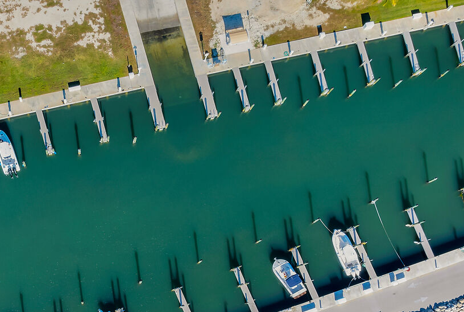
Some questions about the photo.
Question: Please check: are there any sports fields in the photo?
No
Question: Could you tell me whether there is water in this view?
Yes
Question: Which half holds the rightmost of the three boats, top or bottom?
bottom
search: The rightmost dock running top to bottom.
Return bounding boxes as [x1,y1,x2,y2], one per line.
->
[448,22,464,68]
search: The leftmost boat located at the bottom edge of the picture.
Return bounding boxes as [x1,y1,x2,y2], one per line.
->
[276,258,304,300]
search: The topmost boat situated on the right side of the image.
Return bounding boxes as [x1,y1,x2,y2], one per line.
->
[334,228,359,277]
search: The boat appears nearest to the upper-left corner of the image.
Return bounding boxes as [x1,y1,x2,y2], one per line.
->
[0,130,20,175]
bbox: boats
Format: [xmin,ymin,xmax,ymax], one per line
[276,258,304,300]
[0,130,20,175]
[334,228,359,277]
